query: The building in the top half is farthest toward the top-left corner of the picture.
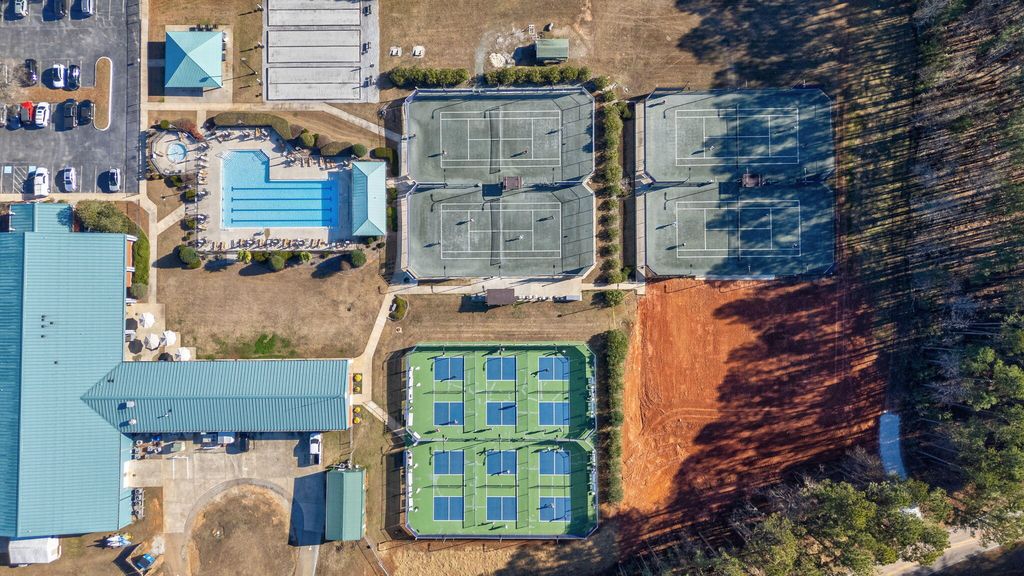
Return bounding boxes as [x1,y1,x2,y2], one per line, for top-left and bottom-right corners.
[166,31,226,89]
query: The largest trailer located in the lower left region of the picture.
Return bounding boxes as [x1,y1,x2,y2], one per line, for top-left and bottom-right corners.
[7,536,71,565]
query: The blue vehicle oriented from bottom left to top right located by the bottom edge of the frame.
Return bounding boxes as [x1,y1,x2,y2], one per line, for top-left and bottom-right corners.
[137,552,153,569]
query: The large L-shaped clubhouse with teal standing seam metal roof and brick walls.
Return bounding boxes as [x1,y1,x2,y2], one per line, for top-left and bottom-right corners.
[0,202,355,537]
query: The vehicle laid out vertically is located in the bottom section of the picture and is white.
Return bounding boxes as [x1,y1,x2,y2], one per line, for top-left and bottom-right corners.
[309,434,322,464]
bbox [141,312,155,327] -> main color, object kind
white umbrella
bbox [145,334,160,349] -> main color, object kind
white umbrella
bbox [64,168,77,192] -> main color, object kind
white vehicle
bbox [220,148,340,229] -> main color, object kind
blue swimming pool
